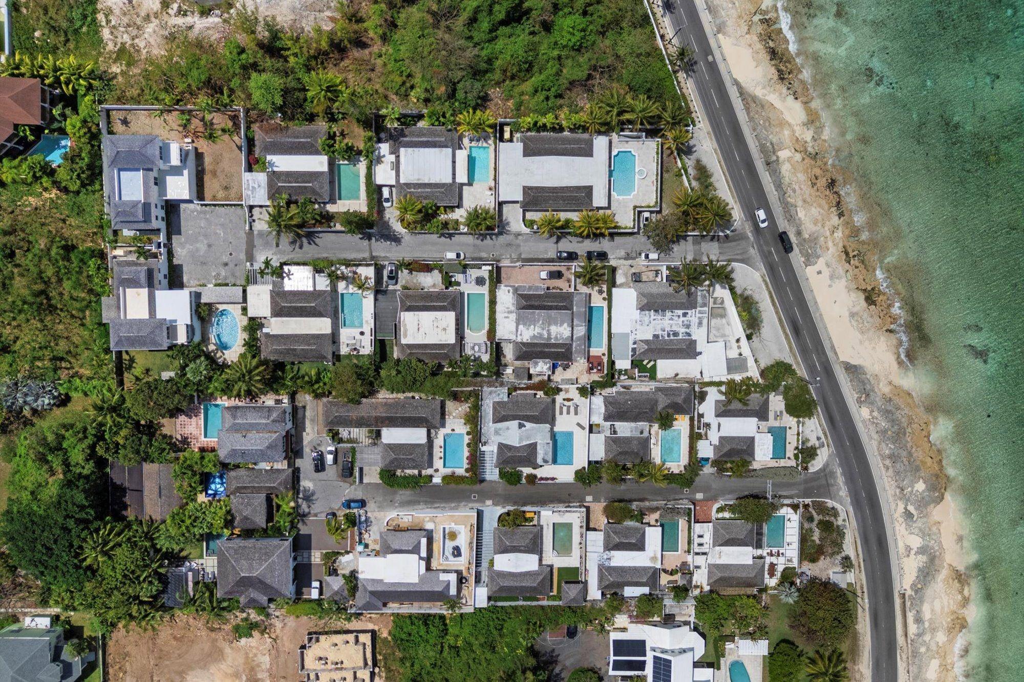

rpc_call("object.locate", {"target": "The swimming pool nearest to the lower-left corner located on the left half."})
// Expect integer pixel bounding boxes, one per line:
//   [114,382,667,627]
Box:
[205,532,226,558]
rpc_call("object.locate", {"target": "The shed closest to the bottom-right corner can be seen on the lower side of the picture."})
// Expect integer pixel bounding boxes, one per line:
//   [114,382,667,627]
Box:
[735,635,768,655]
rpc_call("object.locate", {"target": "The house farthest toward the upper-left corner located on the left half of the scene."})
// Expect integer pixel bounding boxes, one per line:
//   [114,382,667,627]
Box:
[0,77,58,159]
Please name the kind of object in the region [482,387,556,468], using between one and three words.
house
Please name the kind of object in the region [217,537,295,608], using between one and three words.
house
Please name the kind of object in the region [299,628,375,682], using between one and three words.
building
